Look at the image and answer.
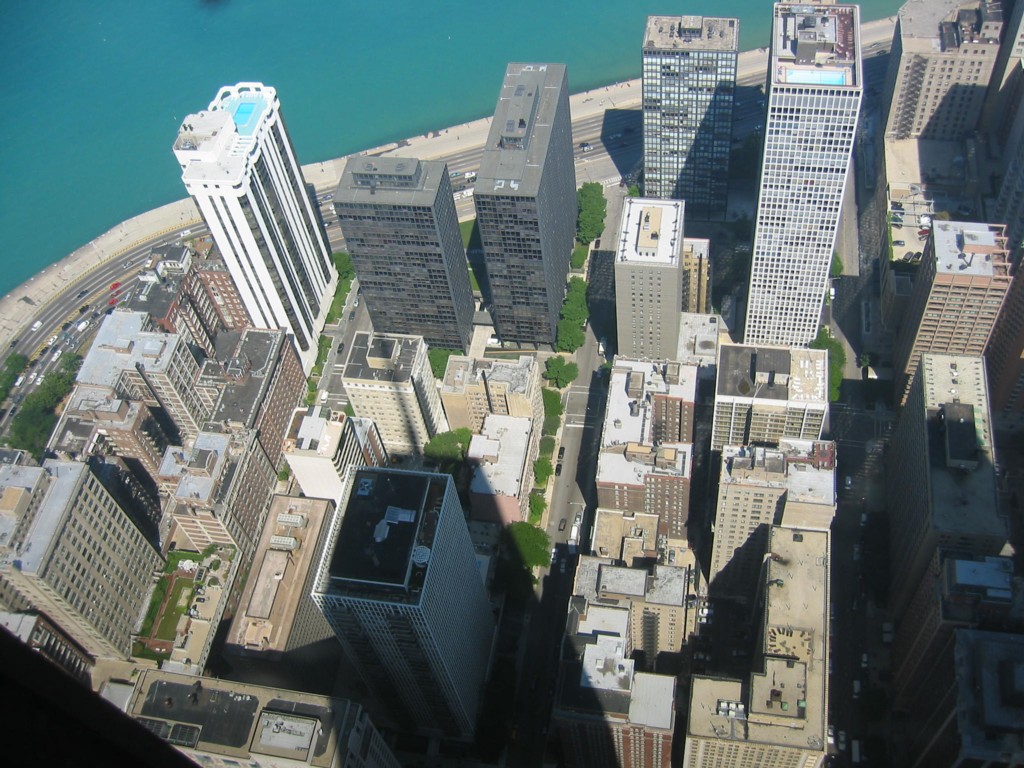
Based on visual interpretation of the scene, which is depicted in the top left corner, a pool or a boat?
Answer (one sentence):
What appears in the top left corner is a pool.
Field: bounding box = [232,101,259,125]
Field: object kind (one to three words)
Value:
swimming pool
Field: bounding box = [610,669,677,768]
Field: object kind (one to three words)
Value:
building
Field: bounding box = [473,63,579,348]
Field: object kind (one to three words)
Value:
building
